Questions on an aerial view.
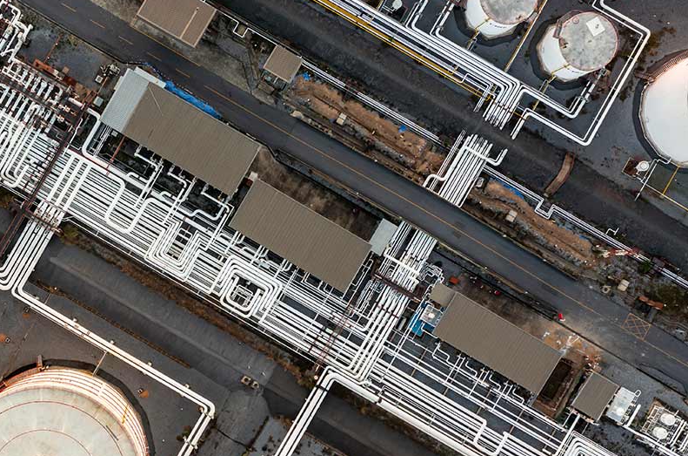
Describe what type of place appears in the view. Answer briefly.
industrial area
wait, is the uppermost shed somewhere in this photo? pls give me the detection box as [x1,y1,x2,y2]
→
[137,0,217,52]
